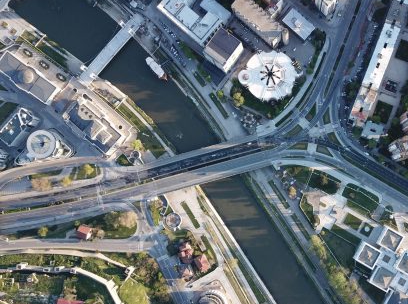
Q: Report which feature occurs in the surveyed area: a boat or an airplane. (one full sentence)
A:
This aerial view contains a boat.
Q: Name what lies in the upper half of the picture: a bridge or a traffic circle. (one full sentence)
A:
You can see a bridge in the upper half of the picture.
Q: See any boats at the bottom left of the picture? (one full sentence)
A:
No, I see no boat at the bottom left of the picture.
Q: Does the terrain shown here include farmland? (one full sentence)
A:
No, there is no farmland in the image.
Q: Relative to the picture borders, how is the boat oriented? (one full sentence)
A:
In this picture, the boat is oriented at an angle.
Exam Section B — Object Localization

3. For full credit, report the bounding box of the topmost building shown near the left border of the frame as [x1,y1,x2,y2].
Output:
[0,52,62,106]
